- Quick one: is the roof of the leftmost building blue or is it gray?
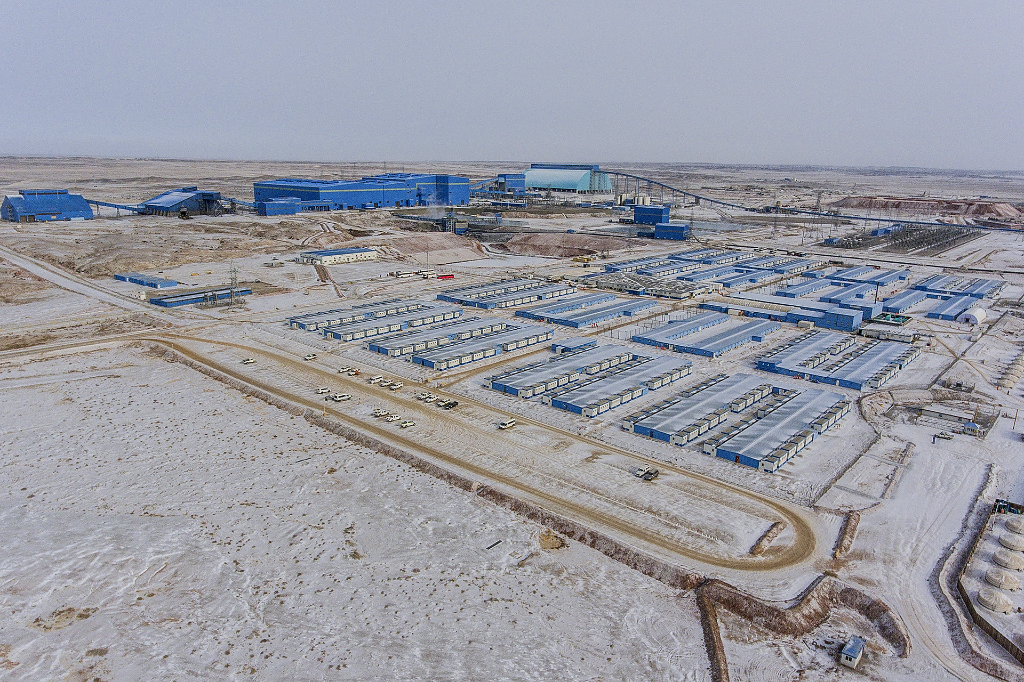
blue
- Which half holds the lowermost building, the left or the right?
right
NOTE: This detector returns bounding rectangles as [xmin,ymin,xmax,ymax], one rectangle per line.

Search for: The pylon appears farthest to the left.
[227,257,243,310]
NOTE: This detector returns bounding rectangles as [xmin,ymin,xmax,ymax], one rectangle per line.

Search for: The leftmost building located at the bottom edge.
[840,632,867,668]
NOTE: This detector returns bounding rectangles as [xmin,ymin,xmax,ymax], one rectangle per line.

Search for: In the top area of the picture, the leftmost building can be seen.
[0,191,93,221]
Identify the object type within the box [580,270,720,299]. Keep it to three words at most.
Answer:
building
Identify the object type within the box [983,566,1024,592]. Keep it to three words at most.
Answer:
tent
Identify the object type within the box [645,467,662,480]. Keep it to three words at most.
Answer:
vehicle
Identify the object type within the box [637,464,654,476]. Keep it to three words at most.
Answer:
vehicle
